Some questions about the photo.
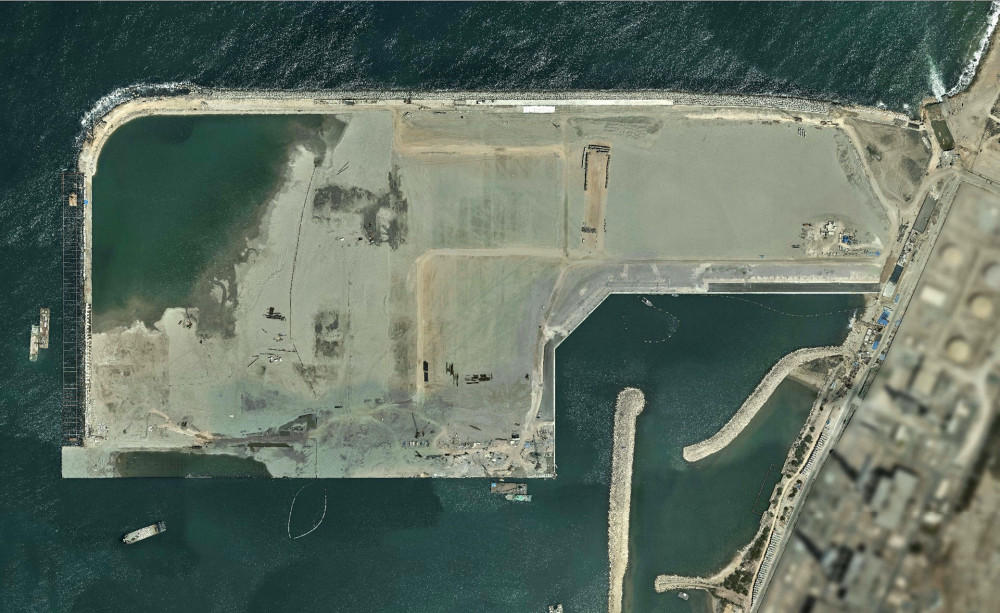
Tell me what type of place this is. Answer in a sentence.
This looks like a port.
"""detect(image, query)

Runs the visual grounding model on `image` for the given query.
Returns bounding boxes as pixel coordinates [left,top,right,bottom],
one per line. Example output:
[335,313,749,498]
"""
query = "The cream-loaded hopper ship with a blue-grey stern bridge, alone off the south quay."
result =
[123,520,167,543]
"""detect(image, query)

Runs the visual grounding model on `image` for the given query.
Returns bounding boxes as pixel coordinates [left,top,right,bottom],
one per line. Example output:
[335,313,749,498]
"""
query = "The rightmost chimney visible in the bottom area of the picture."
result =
[918,389,938,413]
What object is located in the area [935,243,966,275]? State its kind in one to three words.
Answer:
storage tank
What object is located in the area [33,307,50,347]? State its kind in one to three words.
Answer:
ship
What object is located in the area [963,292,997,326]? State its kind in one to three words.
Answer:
storage tank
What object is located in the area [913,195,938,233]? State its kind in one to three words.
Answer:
building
